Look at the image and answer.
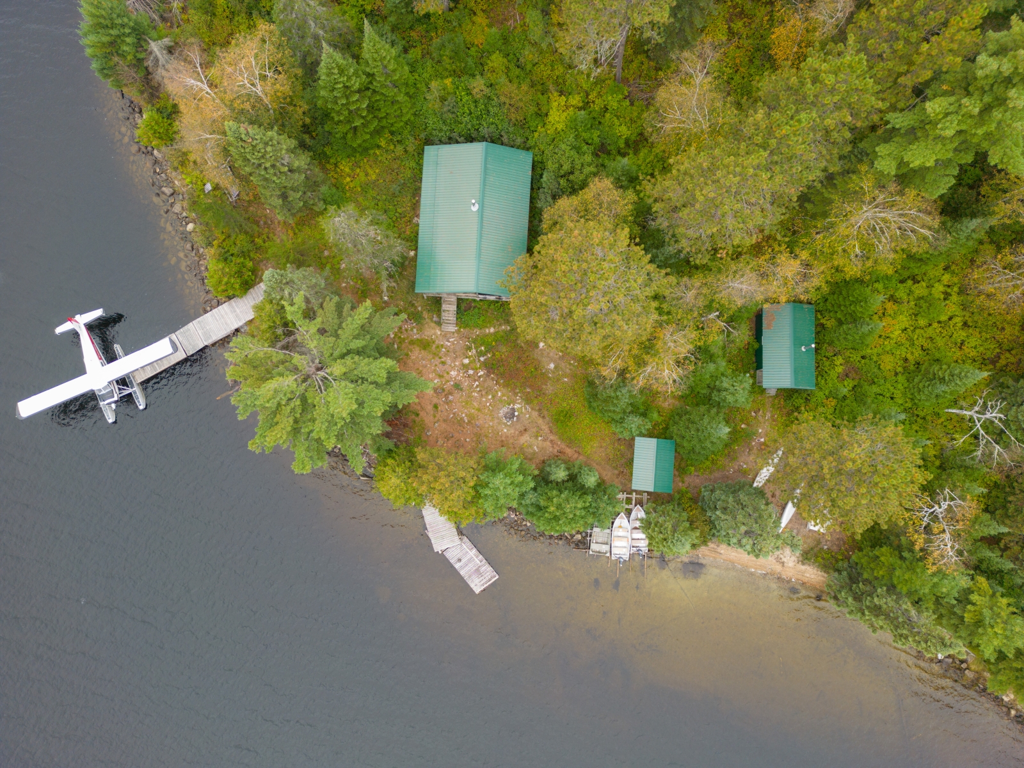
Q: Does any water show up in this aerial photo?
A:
Yes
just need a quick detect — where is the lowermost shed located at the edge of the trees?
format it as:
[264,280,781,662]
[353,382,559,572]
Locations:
[630,437,675,494]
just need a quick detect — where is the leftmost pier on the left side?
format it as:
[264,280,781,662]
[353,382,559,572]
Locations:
[132,294,260,384]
